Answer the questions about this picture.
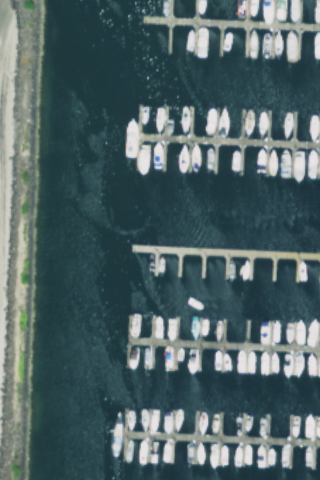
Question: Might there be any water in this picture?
Yes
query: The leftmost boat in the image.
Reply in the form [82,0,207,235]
[110,412,122,458]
